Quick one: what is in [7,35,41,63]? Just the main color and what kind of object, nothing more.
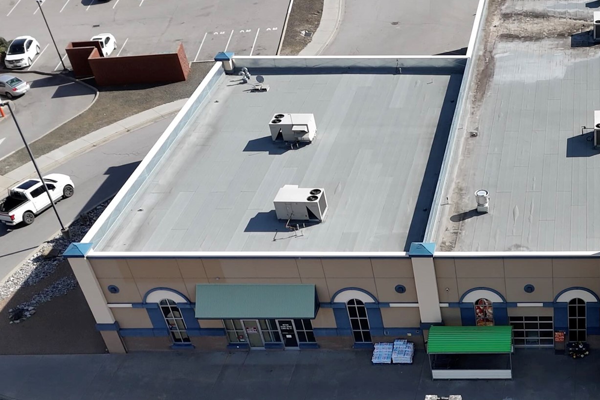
white car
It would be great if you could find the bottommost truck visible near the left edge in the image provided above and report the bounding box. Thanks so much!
[0,175,69,227]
